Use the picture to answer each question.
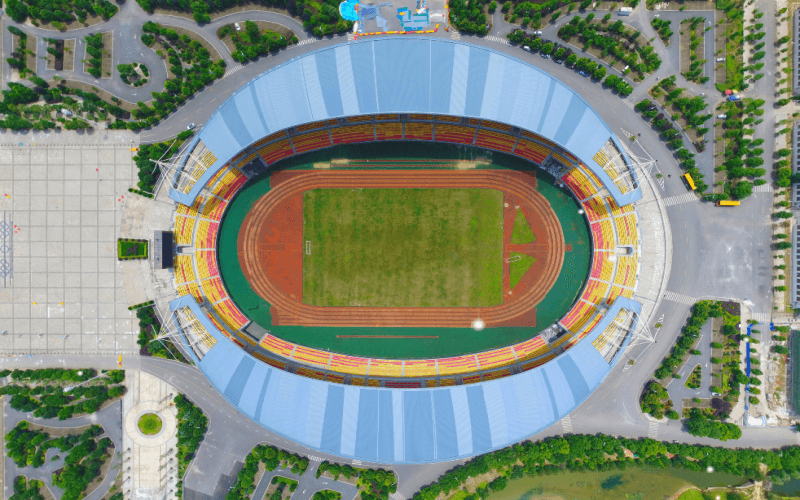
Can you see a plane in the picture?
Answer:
No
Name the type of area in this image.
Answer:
sports ground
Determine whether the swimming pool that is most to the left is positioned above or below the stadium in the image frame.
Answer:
above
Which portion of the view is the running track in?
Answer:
center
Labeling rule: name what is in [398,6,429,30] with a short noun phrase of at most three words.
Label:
building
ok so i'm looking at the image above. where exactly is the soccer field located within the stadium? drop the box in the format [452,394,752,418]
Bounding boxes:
[302,188,503,307]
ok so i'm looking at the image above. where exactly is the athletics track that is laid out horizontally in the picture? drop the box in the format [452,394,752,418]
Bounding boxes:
[238,170,572,327]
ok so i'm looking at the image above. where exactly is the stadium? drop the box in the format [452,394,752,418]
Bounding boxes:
[148,37,660,465]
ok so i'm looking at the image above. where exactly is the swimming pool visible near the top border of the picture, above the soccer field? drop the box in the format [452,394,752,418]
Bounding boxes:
[338,0,358,21]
